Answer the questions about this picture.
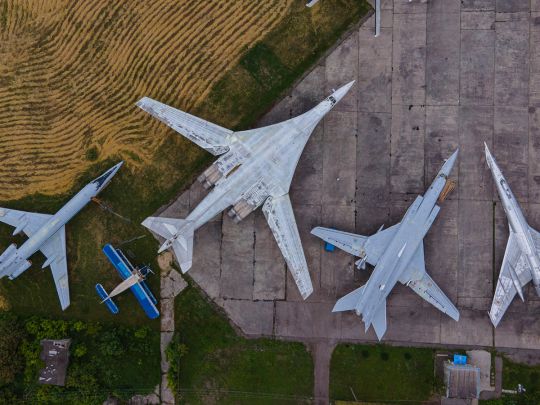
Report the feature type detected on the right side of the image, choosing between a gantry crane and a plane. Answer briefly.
plane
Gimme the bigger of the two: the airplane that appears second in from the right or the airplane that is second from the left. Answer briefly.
the airplane that appears second in from the right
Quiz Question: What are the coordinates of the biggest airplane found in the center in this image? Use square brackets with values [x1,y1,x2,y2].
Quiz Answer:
[133,81,354,297]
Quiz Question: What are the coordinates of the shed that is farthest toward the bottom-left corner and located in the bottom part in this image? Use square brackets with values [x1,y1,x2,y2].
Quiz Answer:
[40,339,73,385]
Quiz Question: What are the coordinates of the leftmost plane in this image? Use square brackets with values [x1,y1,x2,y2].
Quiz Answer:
[0,160,123,311]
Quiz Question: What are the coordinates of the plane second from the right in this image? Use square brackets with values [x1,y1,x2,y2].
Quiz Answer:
[309,149,460,340]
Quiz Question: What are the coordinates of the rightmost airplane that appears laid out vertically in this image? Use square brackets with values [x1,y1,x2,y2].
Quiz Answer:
[485,142,540,327]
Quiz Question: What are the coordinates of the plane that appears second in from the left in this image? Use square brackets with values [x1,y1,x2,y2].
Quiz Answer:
[96,245,158,319]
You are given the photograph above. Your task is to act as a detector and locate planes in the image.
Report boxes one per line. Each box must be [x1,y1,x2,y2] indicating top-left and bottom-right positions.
[133,81,354,297]
[485,142,540,327]
[309,149,460,340]
[96,245,158,319]
[0,160,123,311]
